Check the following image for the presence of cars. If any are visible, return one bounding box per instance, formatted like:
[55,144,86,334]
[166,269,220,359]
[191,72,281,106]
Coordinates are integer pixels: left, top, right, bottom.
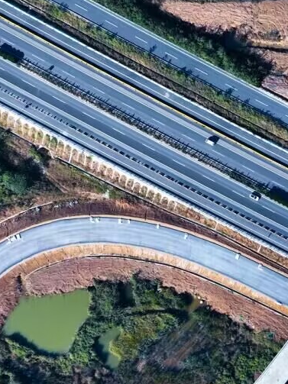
[250,192,260,200]
[205,138,215,146]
